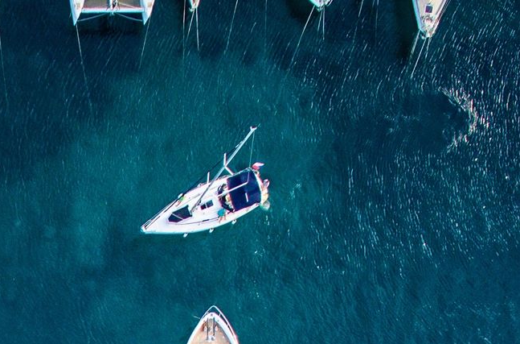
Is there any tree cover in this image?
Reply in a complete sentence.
No, there's no tree cover in this view.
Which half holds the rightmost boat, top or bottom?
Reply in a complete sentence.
You can find the rightmost boat in the top half.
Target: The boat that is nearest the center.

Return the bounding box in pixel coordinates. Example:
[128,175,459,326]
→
[138,120,269,240]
